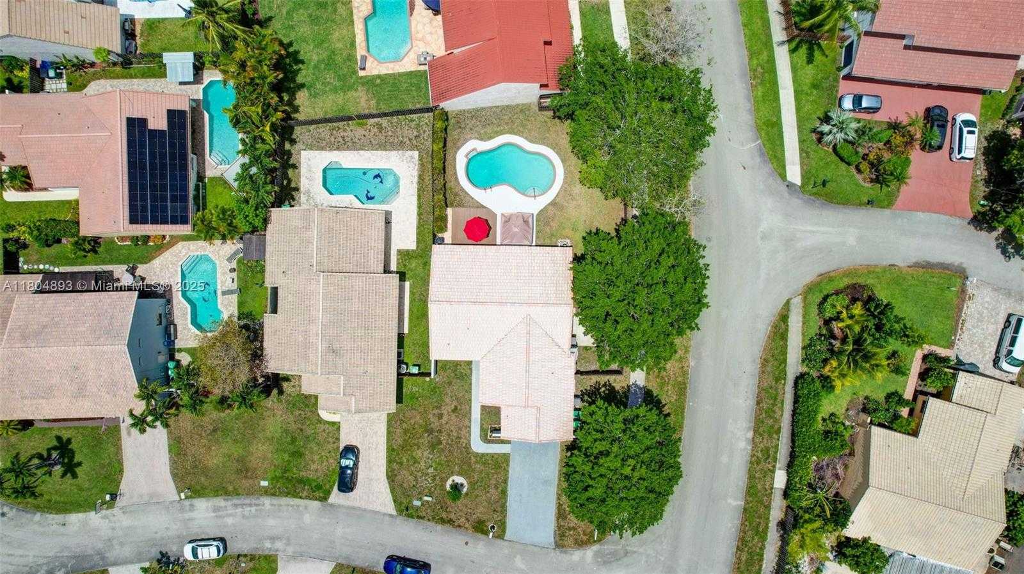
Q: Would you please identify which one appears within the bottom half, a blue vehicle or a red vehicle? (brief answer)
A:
blue vehicle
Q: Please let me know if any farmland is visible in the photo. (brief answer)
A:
No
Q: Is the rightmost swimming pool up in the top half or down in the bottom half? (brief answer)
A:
top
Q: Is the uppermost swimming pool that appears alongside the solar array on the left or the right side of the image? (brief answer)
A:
left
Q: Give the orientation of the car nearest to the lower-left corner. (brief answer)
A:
horizontally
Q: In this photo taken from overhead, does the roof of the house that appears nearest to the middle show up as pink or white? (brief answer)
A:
white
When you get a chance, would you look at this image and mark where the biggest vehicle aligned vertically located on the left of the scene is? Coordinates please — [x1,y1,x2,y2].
[336,444,359,494]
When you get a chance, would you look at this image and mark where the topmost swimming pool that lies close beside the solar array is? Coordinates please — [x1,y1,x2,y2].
[200,77,242,167]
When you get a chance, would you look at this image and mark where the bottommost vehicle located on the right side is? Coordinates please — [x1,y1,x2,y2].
[995,315,1024,372]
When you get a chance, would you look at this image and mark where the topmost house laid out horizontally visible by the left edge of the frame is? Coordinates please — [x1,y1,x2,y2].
[0,0,131,60]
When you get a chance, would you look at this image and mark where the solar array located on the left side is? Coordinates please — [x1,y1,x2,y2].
[126,109,189,224]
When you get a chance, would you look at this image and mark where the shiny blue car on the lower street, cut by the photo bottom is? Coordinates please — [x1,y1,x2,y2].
[384,553,432,574]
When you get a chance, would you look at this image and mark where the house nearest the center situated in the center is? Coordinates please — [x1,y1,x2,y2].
[427,243,575,444]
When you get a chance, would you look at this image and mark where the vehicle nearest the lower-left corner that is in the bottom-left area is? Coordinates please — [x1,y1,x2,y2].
[181,537,229,564]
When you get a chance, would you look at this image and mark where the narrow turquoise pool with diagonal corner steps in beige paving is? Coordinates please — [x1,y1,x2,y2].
[178,253,225,334]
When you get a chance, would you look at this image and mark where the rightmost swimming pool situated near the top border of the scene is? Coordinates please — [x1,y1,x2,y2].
[362,0,413,64]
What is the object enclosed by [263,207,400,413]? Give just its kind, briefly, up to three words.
house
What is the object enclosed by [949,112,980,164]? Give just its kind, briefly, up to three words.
car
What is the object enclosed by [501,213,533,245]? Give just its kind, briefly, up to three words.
gazebo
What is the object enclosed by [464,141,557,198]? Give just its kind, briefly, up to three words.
swimming pool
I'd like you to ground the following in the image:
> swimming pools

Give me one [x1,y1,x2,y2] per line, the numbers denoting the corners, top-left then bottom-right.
[362,0,413,64]
[320,159,402,207]
[178,253,225,334]
[464,141,557,198]
[200,77,242,167]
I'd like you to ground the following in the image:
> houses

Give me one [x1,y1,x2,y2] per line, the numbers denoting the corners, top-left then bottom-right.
[0,275,168,420]
[0,89,200,235]
[263,207,400,413]
[839,0,1024,92]
[832,371,1024,574]
[428,0,573,109]
[427,243,575,444]
[0,0,131,60]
